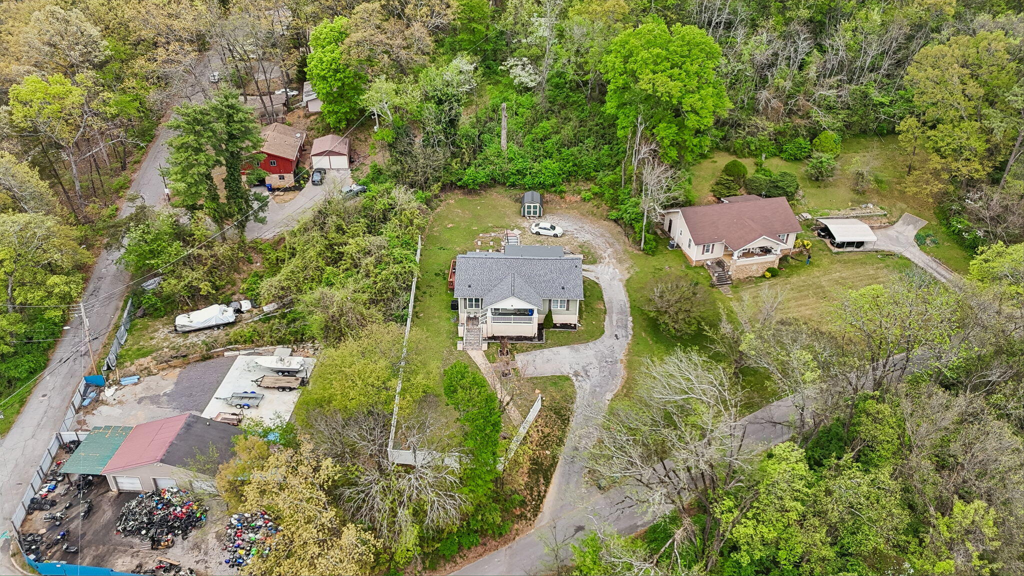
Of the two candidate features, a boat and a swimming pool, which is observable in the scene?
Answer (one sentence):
The one in the frame is a boat.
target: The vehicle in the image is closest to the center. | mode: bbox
[529,221,563,237]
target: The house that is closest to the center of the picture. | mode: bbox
[445,245,585,350]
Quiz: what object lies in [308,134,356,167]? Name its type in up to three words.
building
